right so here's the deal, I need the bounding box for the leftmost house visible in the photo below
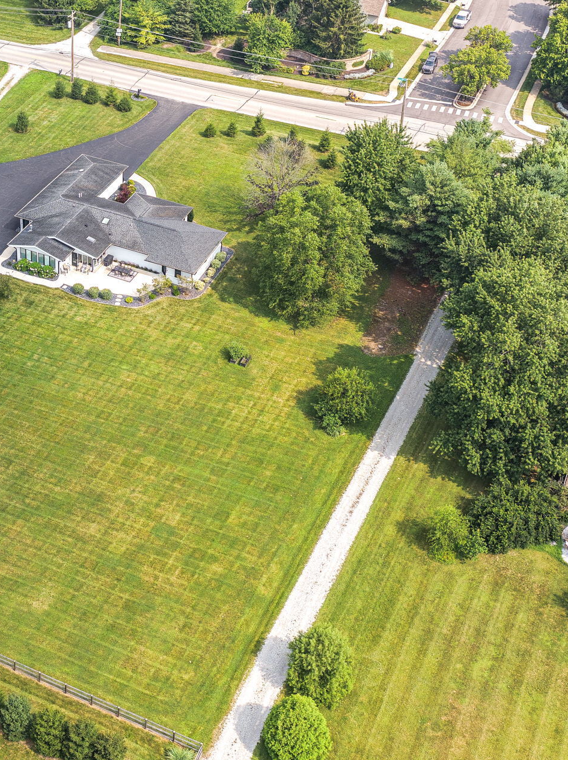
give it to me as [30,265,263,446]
[6,154,228,289]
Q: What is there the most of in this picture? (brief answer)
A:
grass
